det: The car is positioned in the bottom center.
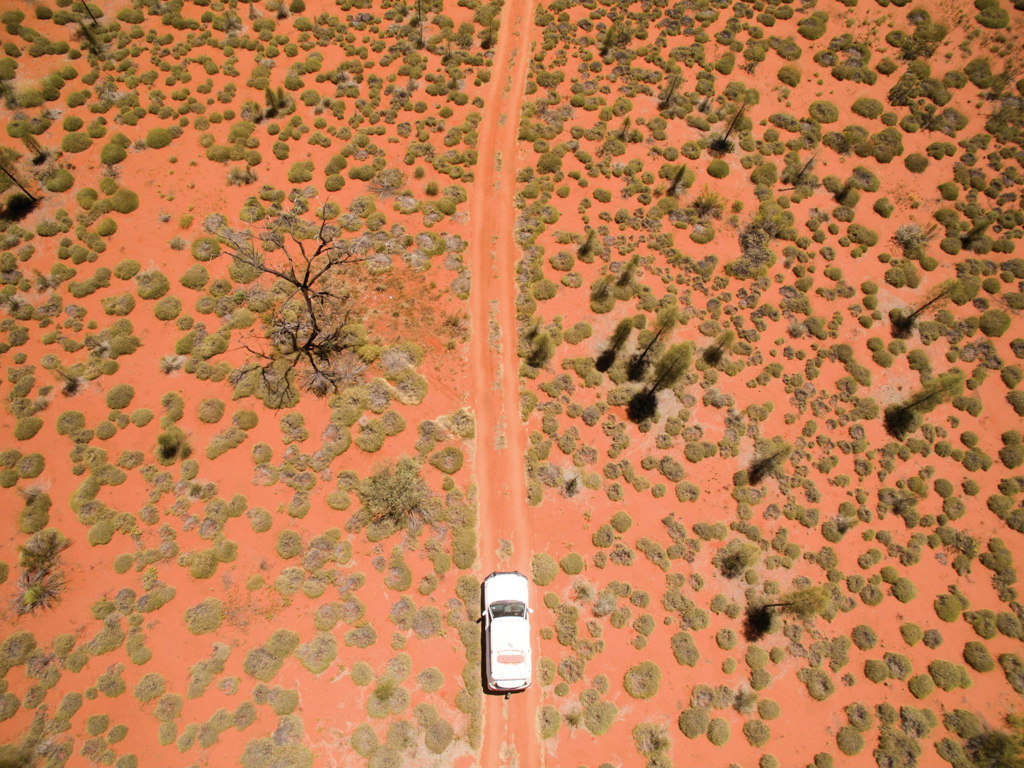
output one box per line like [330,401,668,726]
[482,570,534,697]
